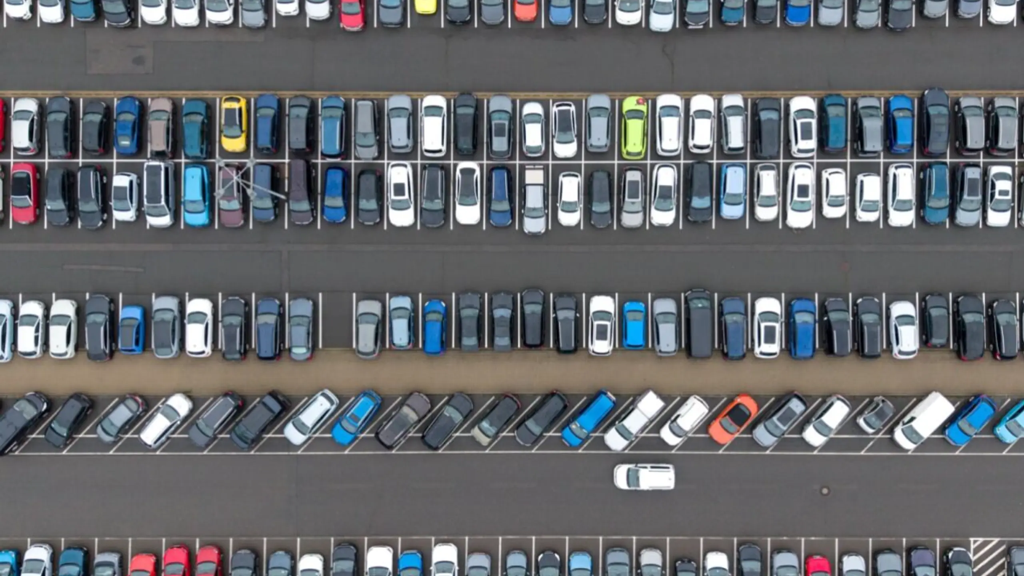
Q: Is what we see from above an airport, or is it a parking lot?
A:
parking lot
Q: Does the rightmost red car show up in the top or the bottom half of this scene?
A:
bottom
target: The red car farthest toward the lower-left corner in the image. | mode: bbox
[127,553,158,576]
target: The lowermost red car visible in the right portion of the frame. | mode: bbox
[803,555,831,576]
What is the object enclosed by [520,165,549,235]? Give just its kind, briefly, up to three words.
truck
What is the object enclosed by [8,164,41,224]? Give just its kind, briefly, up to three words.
car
